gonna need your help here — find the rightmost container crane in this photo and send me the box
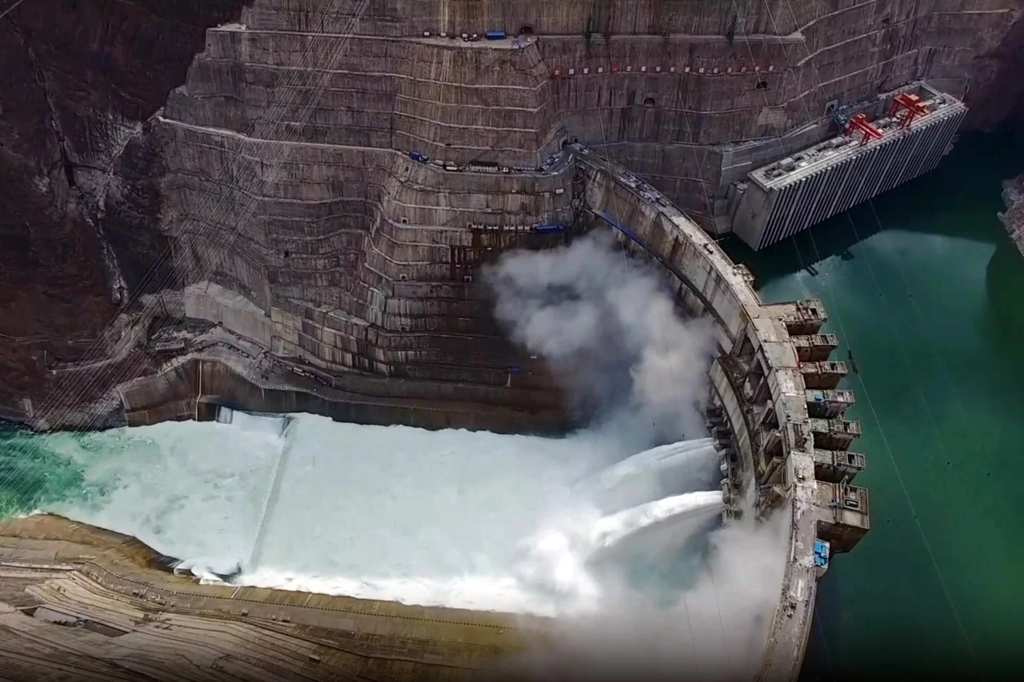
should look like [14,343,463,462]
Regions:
[894,80,949,123]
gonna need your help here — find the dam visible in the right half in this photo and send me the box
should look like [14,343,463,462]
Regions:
[562,145,871,682]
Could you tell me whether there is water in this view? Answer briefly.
Yes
